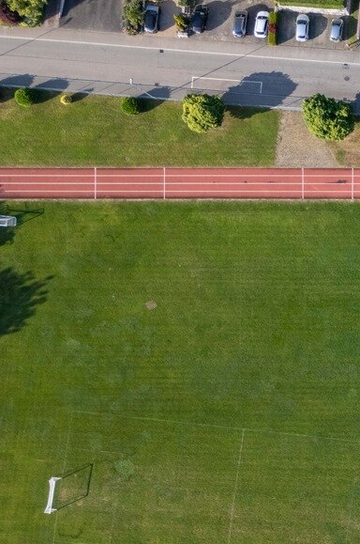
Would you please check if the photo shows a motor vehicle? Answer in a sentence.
Yes, you can see a motor vehicle in this photo.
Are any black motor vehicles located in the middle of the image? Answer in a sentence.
No, there is no black motor vehicle in the middle of the image.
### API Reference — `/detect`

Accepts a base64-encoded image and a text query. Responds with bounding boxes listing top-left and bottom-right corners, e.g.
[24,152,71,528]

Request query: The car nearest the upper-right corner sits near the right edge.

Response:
[330,18,345,44]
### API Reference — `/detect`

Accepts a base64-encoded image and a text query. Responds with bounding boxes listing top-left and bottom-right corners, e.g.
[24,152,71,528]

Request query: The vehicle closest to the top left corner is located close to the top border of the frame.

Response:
[143,3,160,34]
